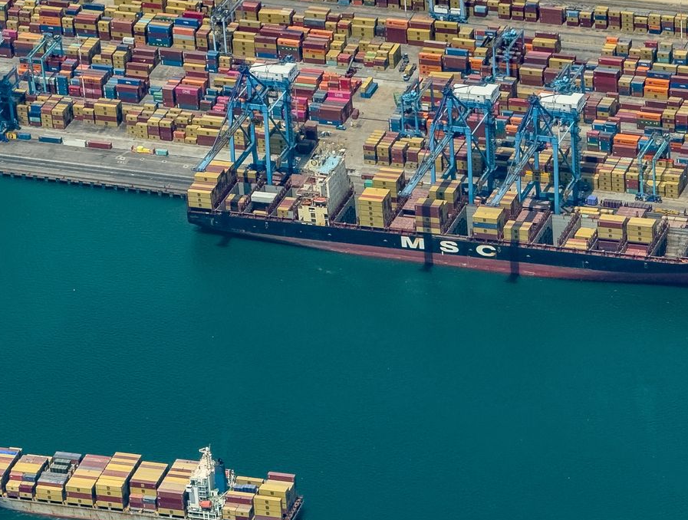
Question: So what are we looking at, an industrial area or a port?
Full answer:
The picture captures a port.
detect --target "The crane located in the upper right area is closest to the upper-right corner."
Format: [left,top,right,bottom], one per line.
[545,64,578,90]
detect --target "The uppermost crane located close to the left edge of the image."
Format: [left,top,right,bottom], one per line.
[28,30,66,93]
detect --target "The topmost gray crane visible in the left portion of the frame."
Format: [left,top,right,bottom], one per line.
[210,0,247,53]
